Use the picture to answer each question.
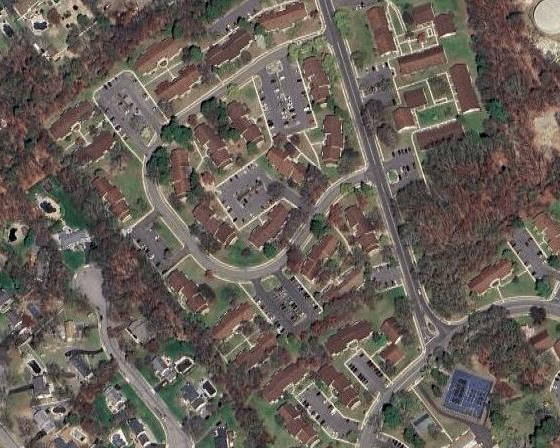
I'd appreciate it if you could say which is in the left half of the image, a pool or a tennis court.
pool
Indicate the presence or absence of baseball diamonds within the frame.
No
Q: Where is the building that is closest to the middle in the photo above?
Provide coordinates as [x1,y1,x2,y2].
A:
[249,205,293,251]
